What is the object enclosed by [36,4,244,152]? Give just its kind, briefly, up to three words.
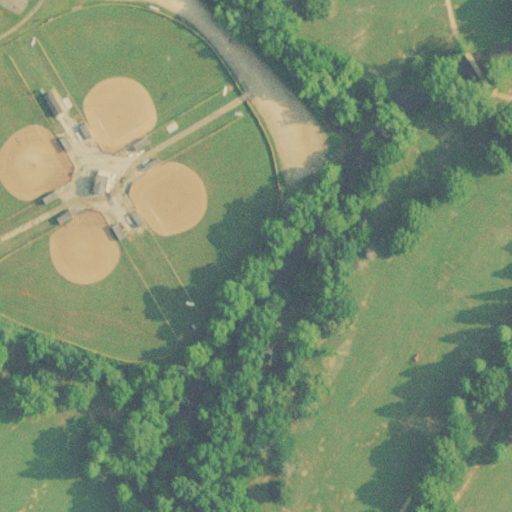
baseball field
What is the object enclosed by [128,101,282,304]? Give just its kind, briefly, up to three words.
baseball field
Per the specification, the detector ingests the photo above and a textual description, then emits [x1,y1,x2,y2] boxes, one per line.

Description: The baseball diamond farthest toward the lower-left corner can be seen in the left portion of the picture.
[0,208,182,363]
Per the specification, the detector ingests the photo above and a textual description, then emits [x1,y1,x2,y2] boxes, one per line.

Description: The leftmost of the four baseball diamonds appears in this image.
[0,54,76,223]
